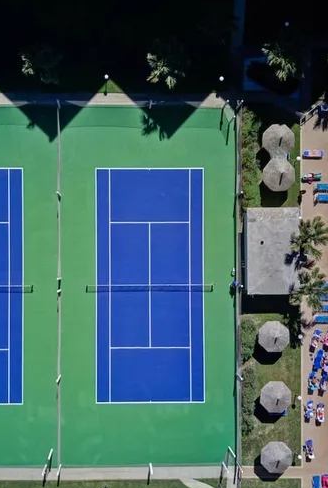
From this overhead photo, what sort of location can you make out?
sports ground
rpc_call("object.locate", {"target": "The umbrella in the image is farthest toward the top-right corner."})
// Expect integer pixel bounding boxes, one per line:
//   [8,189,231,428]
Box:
[262,125,295,157]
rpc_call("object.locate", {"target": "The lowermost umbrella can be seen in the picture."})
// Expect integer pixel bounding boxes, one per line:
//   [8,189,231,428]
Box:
[260,441,292,474]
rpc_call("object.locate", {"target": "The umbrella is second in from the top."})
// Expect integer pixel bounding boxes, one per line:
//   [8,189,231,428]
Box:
[262,157,295,191]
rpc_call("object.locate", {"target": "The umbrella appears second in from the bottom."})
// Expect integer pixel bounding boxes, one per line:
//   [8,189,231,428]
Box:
[259,380,292,414]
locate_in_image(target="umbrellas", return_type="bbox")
[259,380,292,414]
[257,320,291,353]
[262,157,295,191]
[262,125,295,157]
[260,441,292,474]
